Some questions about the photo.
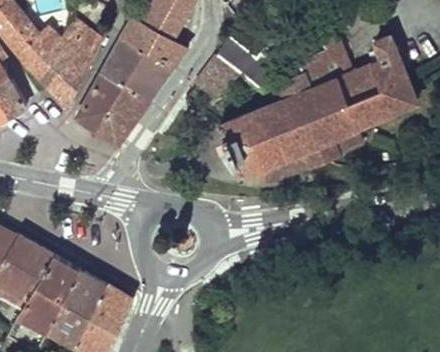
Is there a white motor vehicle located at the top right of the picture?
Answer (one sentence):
Yes, a white motor vehicle can be seen at the top right of the picture.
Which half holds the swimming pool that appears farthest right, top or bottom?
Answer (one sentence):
You can find the swimming pool that appears farthest right in the top half.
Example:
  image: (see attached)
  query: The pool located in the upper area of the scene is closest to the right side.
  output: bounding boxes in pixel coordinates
[32,0,69,26]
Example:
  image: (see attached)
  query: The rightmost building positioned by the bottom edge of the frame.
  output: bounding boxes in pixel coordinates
[78,286,134,352]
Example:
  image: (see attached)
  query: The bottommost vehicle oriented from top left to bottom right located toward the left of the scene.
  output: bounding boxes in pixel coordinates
[8,120,30,138]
